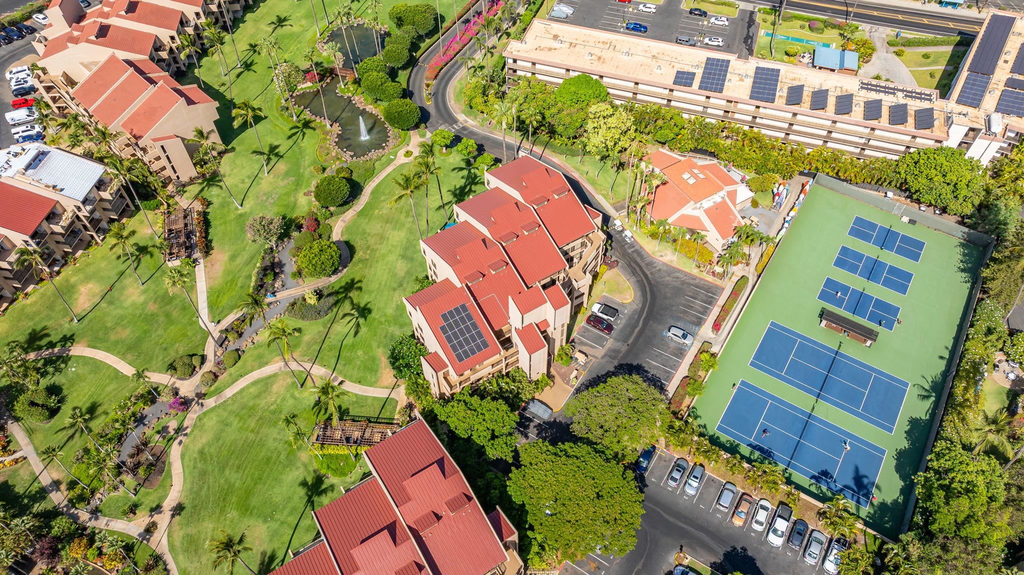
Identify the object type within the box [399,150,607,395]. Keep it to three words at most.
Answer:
building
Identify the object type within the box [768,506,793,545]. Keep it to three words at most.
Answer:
truck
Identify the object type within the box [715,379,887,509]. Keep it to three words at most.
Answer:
tennis court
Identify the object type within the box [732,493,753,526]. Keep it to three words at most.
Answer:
car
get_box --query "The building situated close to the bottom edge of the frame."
[256,413,524,575]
